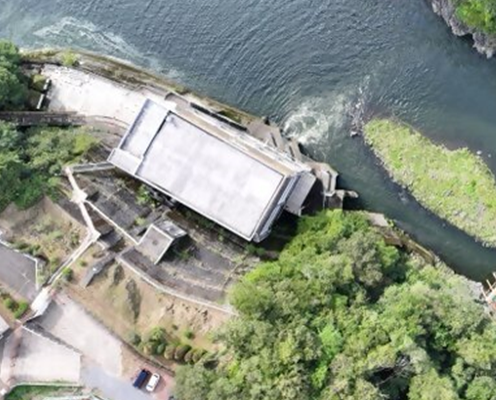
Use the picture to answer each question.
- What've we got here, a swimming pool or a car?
car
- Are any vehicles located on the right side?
No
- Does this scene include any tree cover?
Yes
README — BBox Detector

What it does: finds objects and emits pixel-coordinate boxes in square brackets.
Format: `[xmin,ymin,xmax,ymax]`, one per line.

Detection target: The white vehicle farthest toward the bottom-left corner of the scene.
[145,372,161,393]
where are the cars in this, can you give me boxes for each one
[133,367,150,389]
[145,372,161,393]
